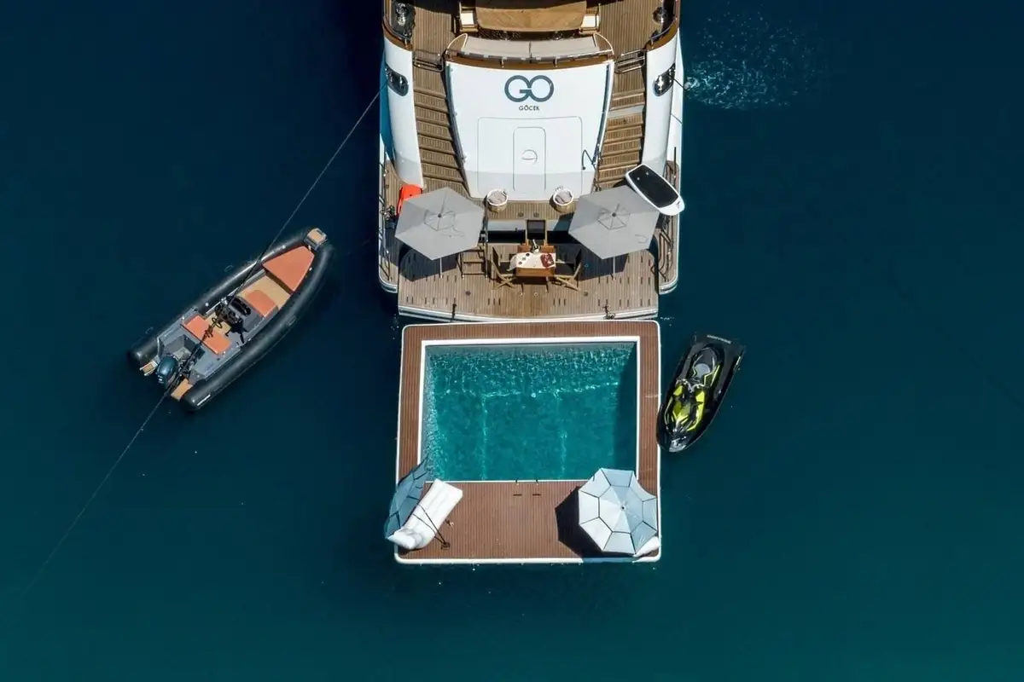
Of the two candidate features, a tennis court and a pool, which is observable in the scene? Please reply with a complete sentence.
Visible in the photo is a pool.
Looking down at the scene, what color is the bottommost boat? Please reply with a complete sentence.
From above, the bottommost boat appears black.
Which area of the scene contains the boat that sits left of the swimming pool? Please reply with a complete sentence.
The boat that sits left of the swimming pool is in the left part of the image.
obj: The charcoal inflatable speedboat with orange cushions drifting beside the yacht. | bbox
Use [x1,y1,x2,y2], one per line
[125,226,336,411]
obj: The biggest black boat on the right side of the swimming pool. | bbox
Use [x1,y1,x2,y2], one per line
[660,334,744,453]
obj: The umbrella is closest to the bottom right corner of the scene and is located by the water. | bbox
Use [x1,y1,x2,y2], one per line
[577,466,659,556]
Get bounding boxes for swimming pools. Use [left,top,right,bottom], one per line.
[396,320,661,566]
